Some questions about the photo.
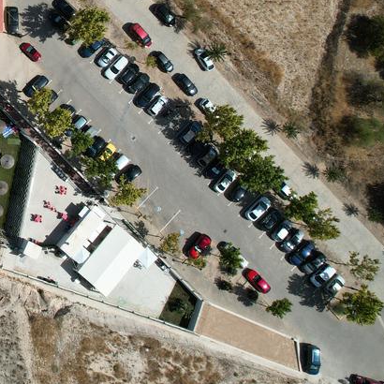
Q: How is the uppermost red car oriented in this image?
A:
at an angle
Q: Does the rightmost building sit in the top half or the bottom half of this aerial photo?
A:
bottom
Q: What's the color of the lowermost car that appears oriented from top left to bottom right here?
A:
red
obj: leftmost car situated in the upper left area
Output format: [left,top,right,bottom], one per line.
[6,6,19,33]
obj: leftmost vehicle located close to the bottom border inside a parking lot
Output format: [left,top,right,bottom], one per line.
[306,342,323,373]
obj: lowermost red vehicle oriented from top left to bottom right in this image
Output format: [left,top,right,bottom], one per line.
[241,266,270,294]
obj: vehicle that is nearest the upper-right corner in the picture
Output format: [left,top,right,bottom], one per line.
[191,44,215,73]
